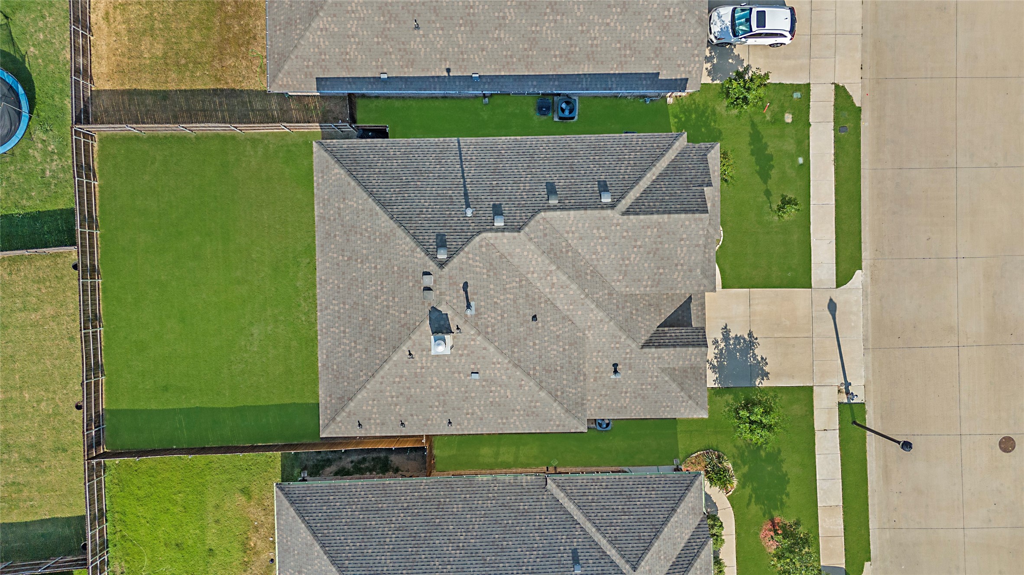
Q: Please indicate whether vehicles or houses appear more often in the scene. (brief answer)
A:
houses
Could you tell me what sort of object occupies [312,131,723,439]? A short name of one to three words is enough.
house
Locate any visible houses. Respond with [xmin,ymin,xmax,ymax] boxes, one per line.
[264,0,709,103]
[272,458,715,575]
[312,131,723,439]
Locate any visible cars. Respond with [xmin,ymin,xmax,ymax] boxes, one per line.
[708,0,797,46]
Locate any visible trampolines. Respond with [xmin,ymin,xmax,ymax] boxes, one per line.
[0,66,45,158]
